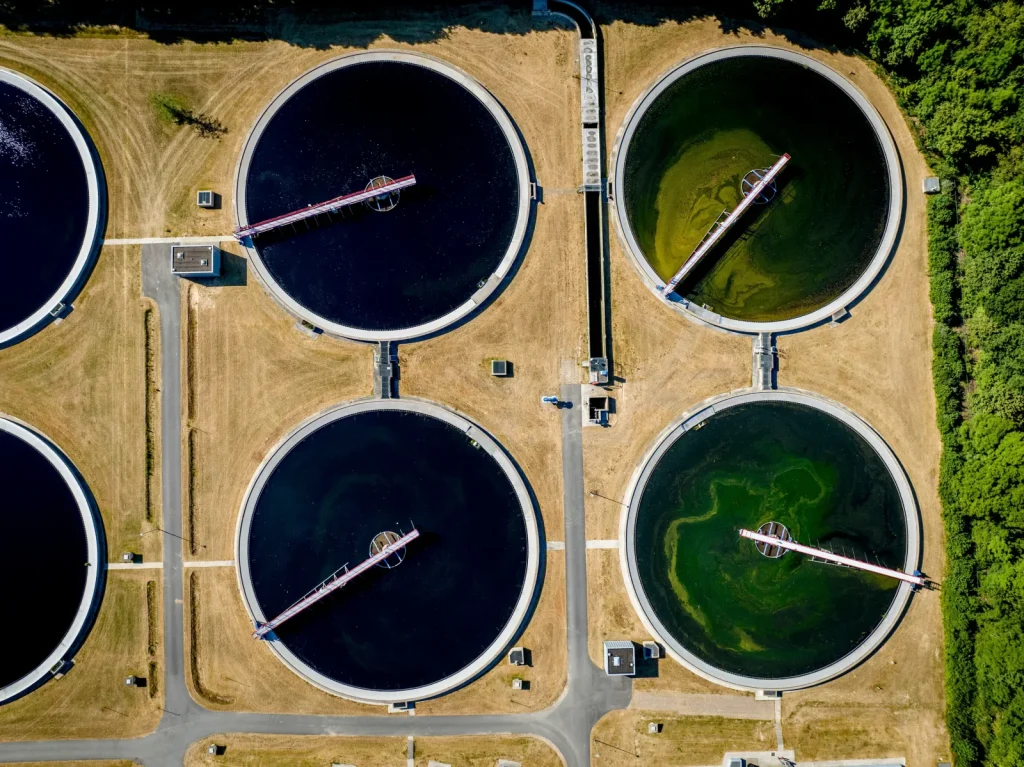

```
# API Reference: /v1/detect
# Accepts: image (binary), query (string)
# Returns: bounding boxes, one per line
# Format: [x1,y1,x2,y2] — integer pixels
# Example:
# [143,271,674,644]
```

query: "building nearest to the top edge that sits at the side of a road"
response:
[171,245,221,276]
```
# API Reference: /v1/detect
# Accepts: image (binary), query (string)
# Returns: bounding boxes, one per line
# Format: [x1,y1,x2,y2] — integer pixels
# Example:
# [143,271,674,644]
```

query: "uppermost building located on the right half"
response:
[605,641,635,676]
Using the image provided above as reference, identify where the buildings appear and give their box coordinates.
[171,245,221,276]
[605,641,635,676]
[727,755,744,767]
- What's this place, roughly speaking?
industrial area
